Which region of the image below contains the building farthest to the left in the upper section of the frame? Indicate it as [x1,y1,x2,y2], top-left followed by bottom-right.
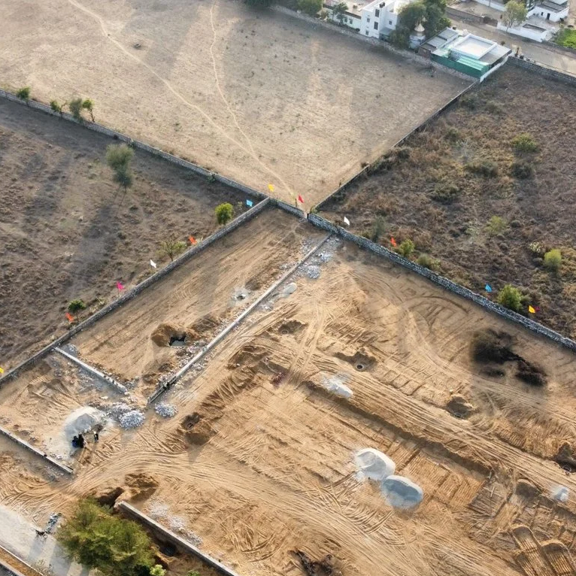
[331,0,376,33]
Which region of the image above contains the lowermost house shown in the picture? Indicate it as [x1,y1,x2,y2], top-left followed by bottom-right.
[420,28,511,78]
